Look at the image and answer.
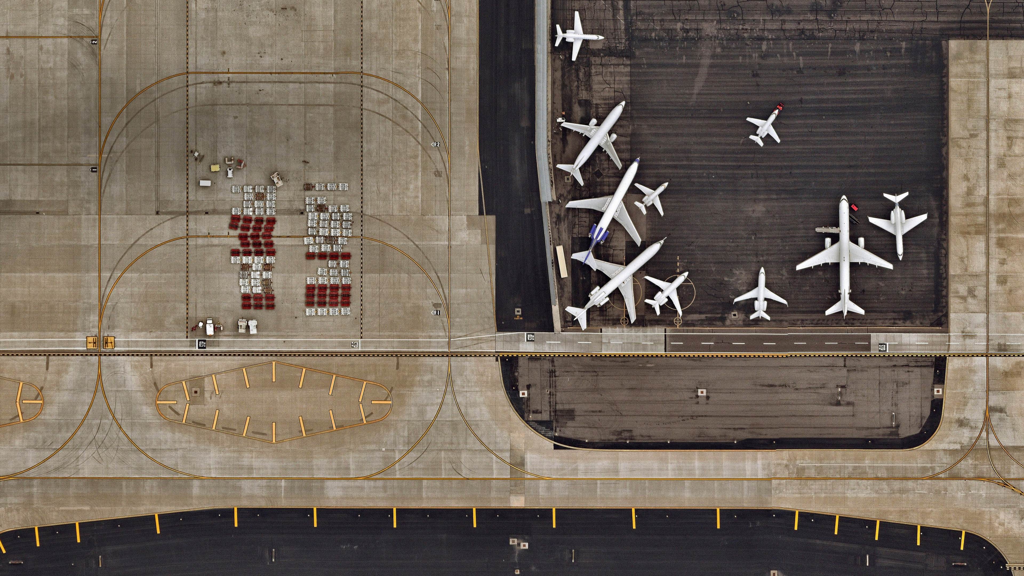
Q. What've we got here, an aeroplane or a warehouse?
aeroplane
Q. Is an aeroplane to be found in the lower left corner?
No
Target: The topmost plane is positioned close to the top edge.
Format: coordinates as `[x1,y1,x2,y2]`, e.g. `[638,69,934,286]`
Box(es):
[555,11,604,60]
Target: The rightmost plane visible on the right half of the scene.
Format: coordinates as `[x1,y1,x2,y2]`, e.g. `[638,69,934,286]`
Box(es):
[868,192,928,260]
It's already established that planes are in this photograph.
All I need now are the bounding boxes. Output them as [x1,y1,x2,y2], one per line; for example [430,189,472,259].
[796,195,893,315]
[555,11,604,60]
[634,182,668,216]
[565,238,666,330]
[645,272,688,318]
[566,157,641,270]
[868,192,928,260]
[746,110,780,146]
[733,267,788,320]
[556,101,626,185]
